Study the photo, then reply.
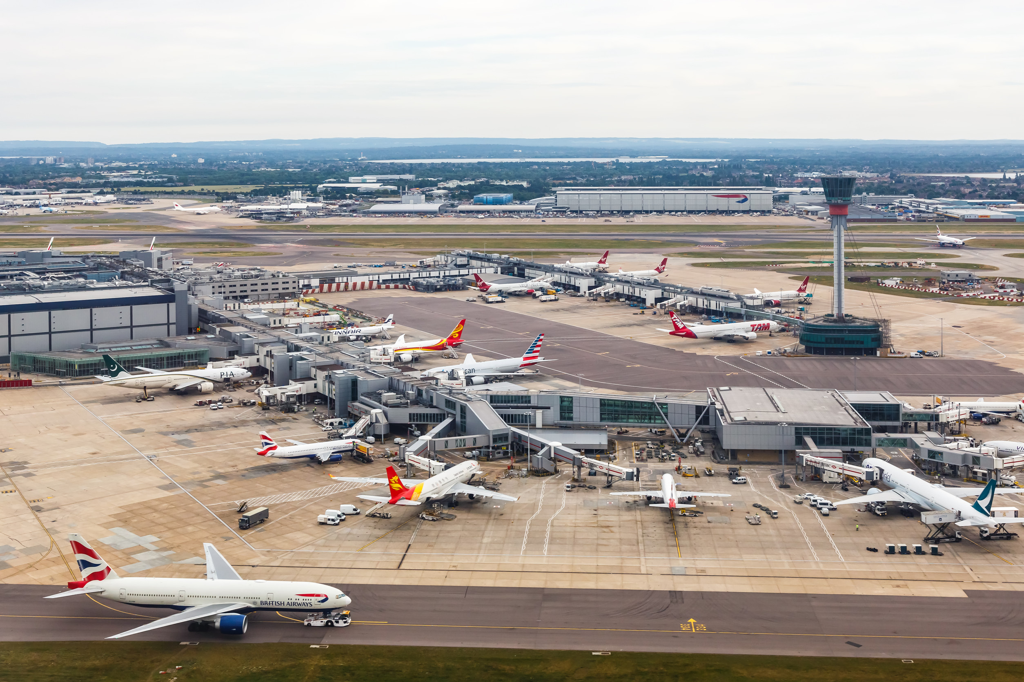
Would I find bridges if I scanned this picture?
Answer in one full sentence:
Yes, I can see a bridge in this picture.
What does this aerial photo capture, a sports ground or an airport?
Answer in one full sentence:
What you see here is an airport.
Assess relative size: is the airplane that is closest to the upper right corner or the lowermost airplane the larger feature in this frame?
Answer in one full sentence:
The airplane that is closest to the upper right corner is smaller than the lowermost airplane.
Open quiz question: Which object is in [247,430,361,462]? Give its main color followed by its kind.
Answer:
white airplane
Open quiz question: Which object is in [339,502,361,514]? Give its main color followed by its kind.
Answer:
white vehicle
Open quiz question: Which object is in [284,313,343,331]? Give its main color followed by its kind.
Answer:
white jet bridge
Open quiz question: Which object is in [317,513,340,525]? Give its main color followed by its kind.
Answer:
white vehicle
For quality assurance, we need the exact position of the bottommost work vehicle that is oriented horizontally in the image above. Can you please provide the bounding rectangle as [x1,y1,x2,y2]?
[305,611,351,627]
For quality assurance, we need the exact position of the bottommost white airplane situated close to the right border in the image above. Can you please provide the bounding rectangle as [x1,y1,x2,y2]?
[833,455,1024,527]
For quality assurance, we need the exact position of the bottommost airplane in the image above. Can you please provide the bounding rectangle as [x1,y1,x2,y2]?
[42,533,352,641]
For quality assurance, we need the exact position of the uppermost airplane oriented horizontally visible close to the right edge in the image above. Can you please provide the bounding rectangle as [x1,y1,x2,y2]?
[919,224,975,248]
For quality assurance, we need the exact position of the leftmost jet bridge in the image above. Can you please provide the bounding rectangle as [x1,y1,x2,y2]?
[206,356,251,370]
